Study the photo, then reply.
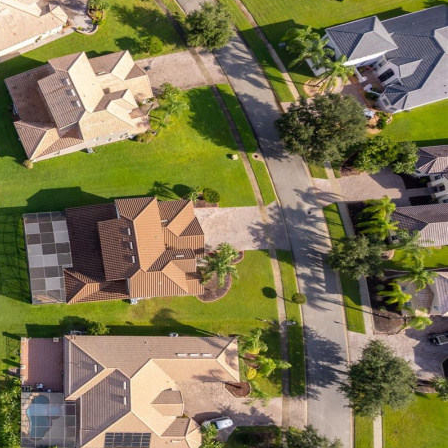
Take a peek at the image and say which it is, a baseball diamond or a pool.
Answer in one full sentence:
Looking from above, you can make out a pool.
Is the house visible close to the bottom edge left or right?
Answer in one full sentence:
The house visible close to the bottom edge sits on the left side.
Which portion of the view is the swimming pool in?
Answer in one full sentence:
You can find the swimming pool in the bottom left area of the picture.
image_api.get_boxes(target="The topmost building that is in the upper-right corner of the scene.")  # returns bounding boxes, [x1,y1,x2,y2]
[314,5,448,122]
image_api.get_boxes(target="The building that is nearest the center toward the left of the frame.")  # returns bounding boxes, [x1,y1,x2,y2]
[64,197,206,304]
